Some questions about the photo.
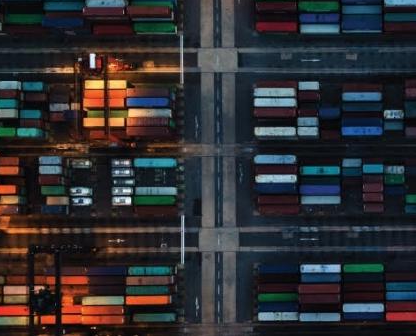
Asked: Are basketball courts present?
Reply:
No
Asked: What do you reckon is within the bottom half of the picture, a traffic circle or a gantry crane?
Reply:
gantry crane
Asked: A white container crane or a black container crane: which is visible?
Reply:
black container crane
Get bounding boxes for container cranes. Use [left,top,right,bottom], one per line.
[74,49,138,150]
[26,245,95,336]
